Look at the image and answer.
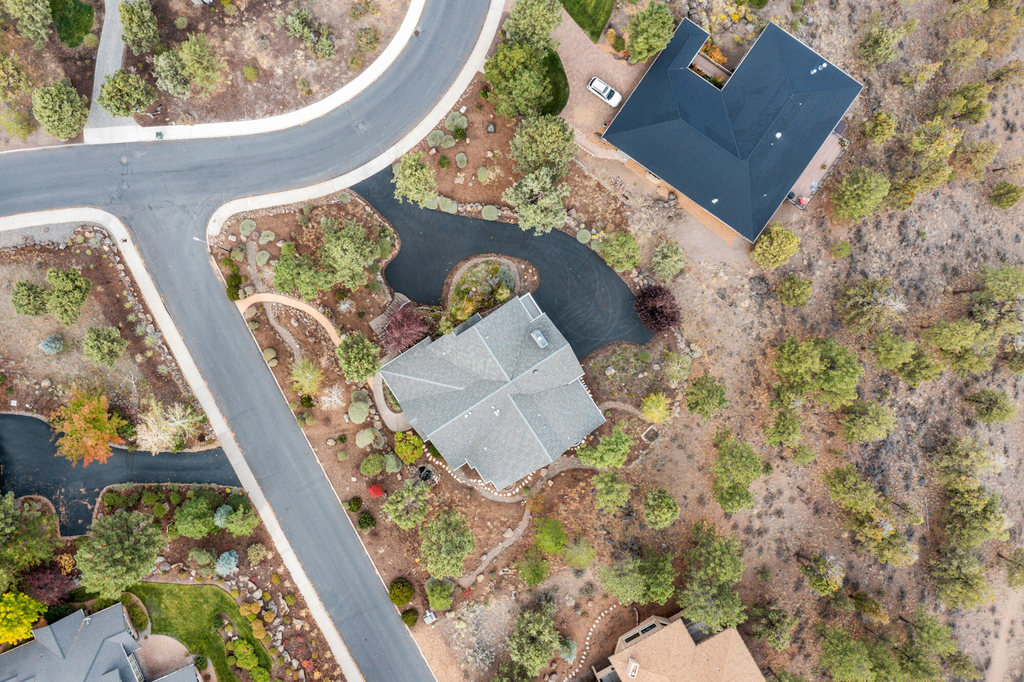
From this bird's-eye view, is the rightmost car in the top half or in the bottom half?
top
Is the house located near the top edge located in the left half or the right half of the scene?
right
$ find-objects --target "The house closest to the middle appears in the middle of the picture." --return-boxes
[379,293,607,492]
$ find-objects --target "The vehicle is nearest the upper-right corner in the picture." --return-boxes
[586,75,623,108]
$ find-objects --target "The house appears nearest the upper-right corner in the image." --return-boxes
[601,17,864,244]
